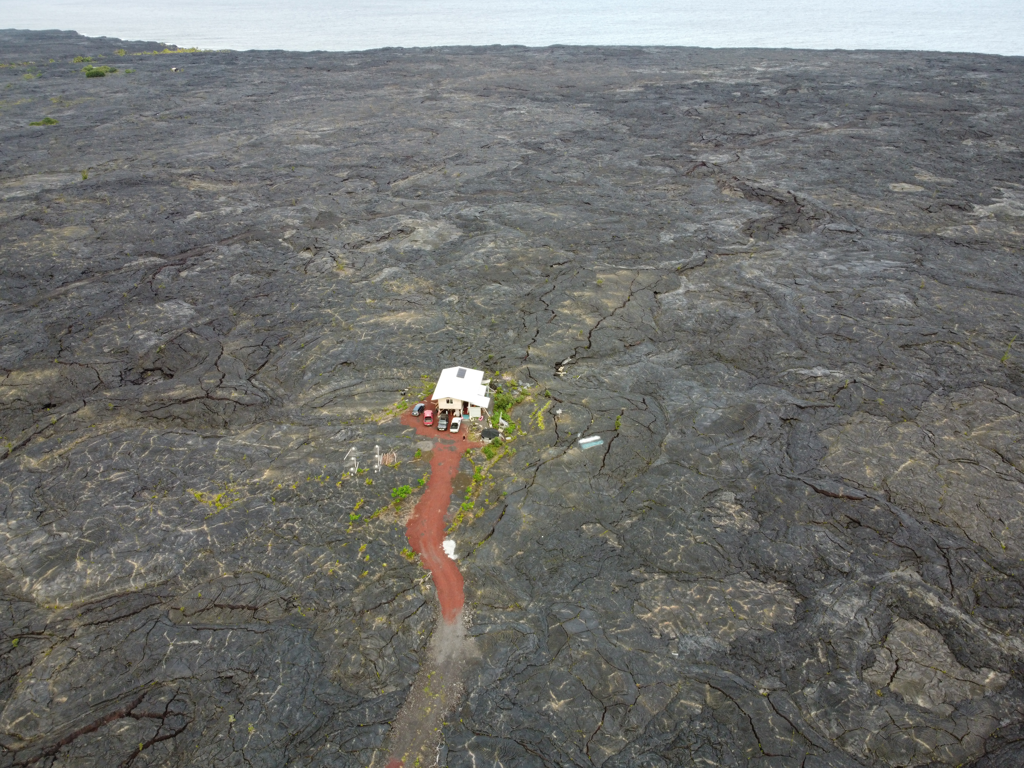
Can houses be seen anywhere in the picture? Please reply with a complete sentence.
Yes, this view includes a house.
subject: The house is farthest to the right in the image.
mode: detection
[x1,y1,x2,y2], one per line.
[432,365,490,419]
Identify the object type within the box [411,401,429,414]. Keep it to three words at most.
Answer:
vehicle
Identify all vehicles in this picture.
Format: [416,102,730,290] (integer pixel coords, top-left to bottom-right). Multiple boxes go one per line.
[411,401,429,414]
[423,407,434,423]
[449,413,463,431]
[436,410,447,428]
